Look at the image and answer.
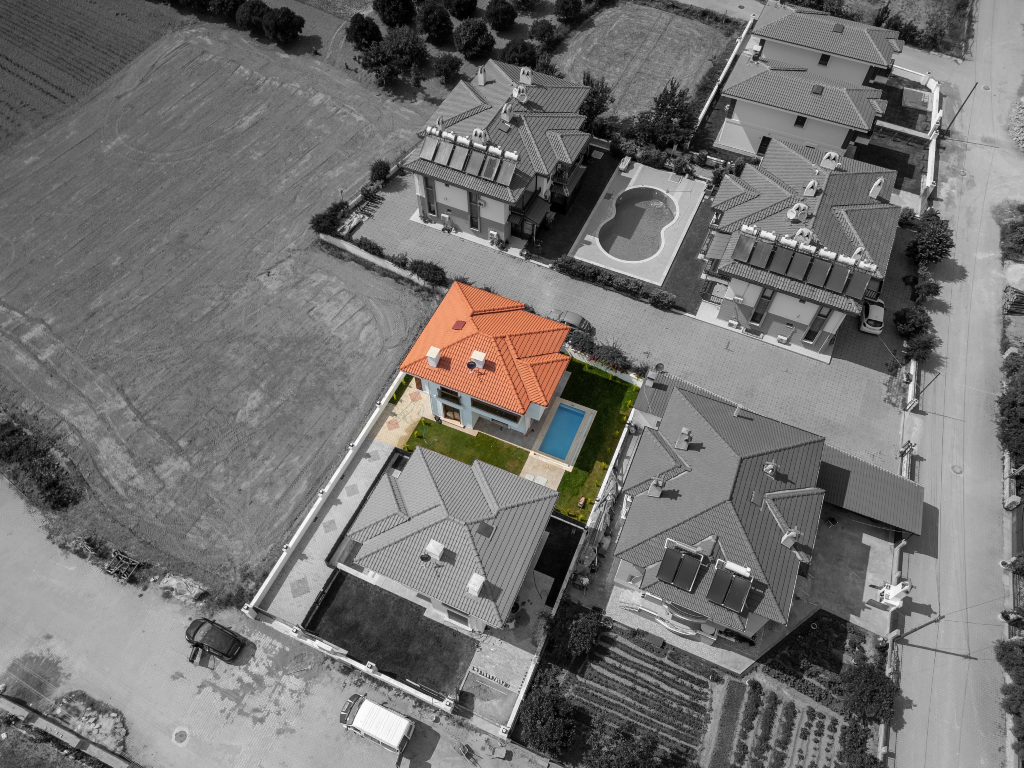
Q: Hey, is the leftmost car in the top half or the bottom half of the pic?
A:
bottom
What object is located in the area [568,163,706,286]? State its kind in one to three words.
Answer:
swimming pool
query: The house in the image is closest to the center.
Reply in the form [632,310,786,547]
[398,279,572,438]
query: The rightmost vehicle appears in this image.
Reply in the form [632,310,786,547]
[859,298,889,337]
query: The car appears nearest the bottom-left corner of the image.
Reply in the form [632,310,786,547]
[182,618,248,670]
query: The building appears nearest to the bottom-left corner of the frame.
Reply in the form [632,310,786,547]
[345,444,561,633]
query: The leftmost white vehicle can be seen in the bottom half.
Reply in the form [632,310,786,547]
[341,694,422,757]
